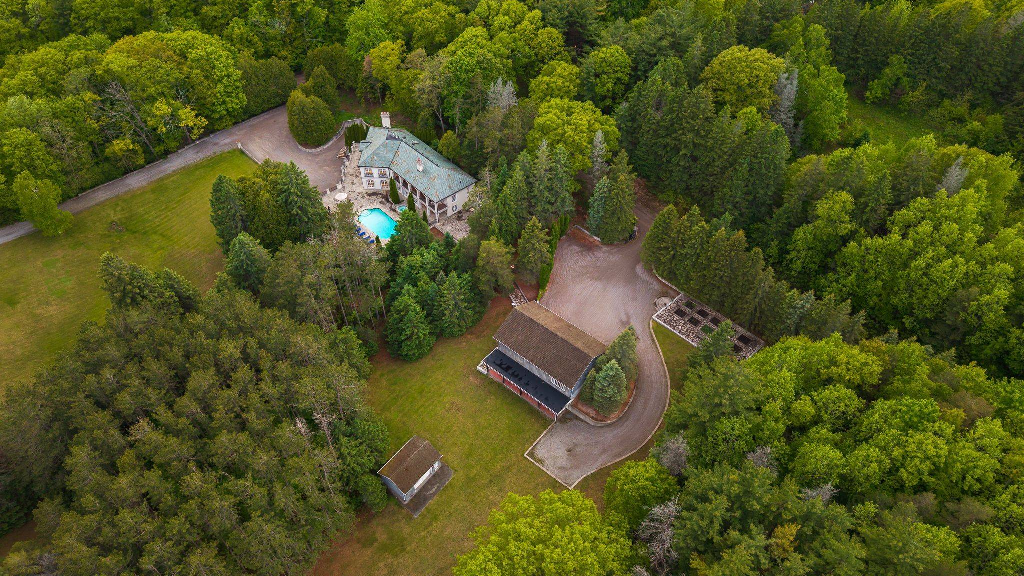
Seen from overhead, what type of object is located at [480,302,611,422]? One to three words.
barn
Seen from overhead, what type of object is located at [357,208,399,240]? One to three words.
swimming pool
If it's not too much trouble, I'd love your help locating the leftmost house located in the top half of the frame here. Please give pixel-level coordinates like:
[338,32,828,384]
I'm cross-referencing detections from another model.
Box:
[358,110,477,225]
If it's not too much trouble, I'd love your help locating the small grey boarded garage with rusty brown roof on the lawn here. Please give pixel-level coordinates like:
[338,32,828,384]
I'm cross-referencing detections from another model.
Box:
[377,436,443,502]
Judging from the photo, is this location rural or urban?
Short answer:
rural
